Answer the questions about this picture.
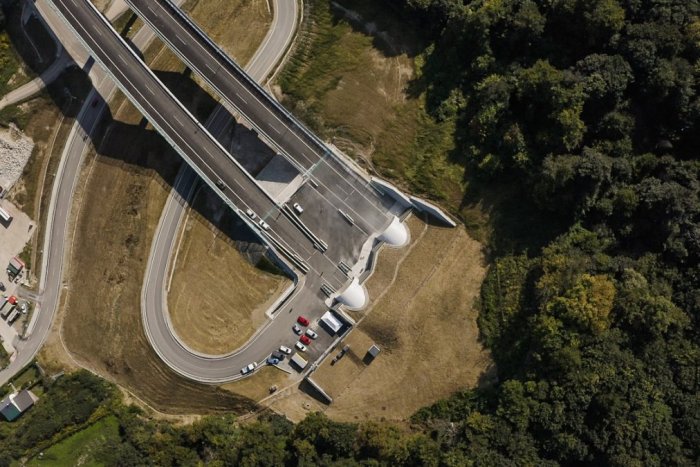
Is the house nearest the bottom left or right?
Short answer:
left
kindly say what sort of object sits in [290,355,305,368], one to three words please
vehicle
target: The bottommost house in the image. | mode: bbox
[0,389,38,422]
